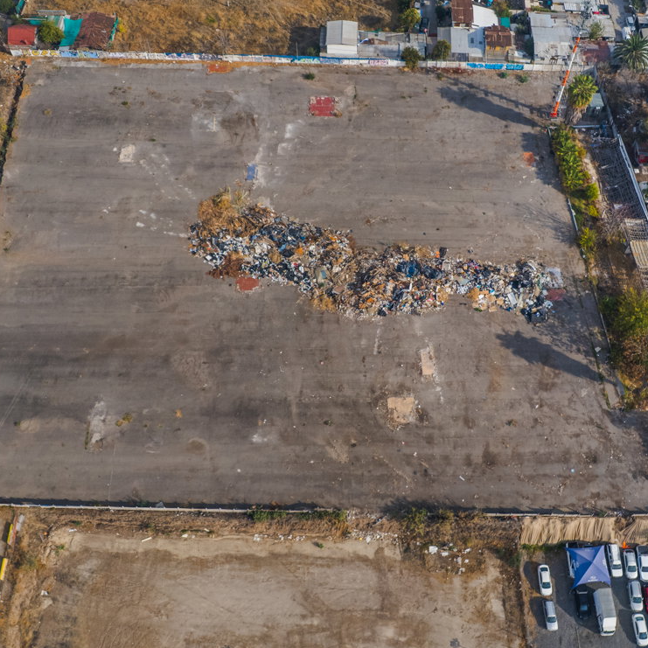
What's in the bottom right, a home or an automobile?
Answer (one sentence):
You can see an automobile in the bottom right.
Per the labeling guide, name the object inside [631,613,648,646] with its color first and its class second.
white car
